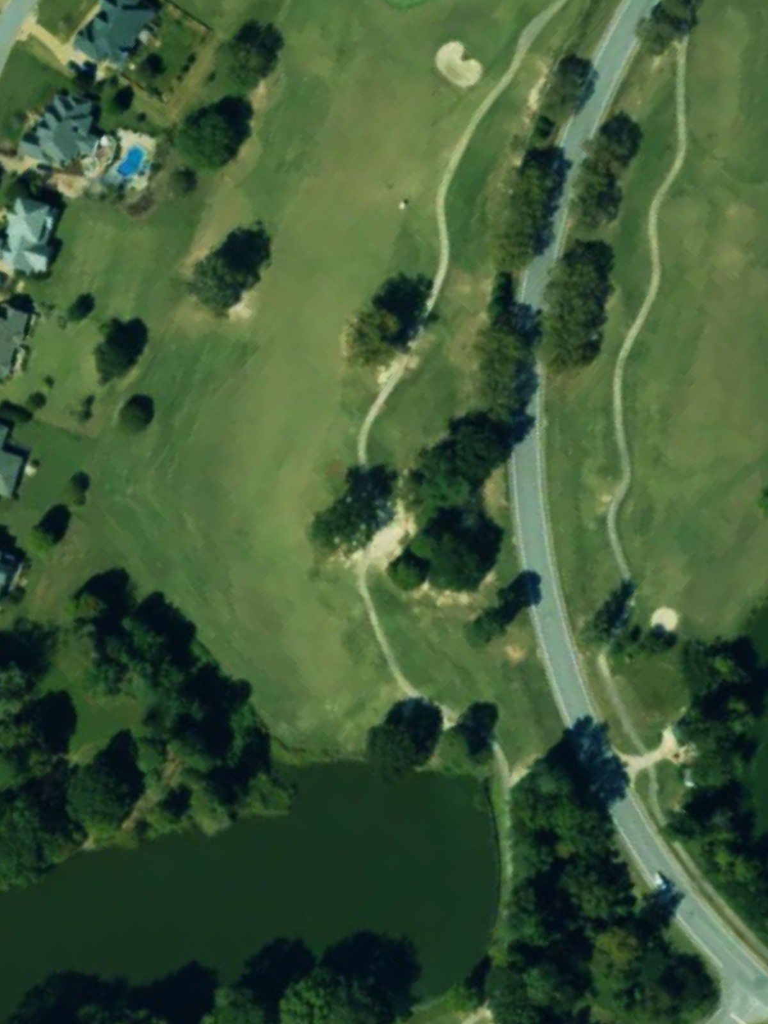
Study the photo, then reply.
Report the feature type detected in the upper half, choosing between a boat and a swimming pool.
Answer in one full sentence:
It is a swimming pool that can be seen in the upper half.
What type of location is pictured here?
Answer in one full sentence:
This looks like a golf course.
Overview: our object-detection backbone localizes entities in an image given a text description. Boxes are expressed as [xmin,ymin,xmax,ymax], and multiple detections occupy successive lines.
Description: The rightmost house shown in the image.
[75,0,160,67]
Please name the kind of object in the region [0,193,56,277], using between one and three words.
house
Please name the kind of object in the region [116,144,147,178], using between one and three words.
swimming pool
